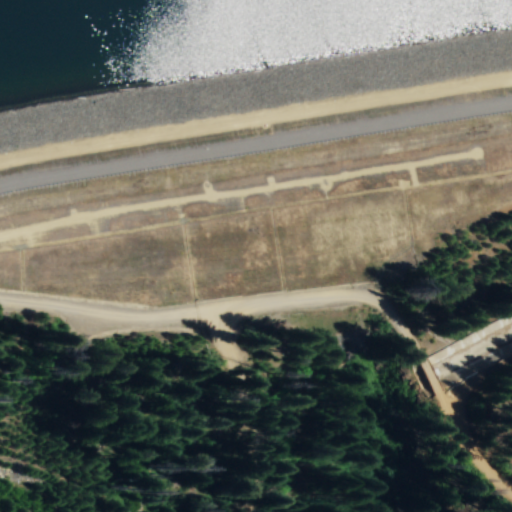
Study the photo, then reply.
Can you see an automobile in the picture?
No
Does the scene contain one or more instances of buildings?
No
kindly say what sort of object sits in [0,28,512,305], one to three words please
dam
